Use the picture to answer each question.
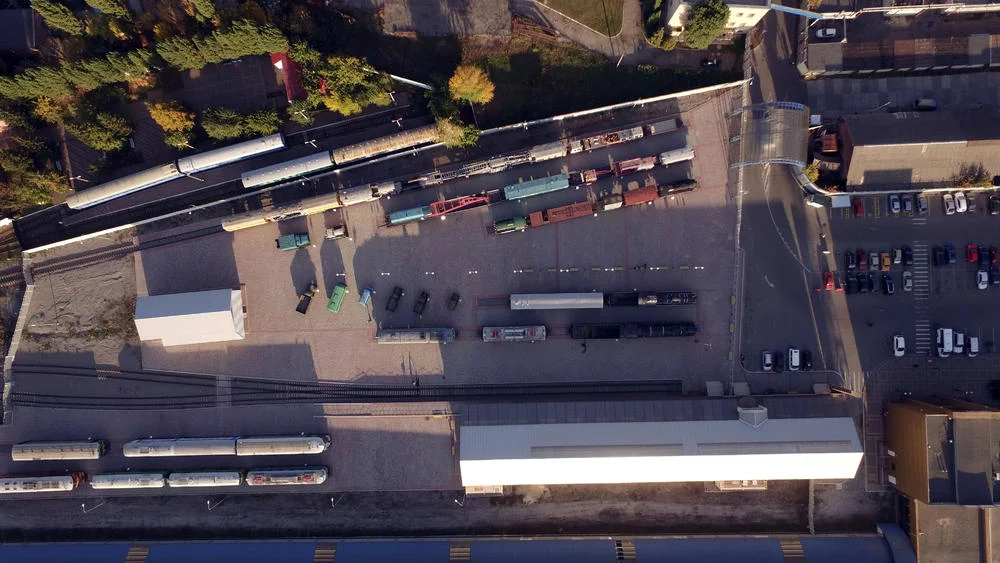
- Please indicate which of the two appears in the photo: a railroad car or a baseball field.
railroad car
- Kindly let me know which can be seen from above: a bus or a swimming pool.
bus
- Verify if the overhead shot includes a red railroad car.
Yes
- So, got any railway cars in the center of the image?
Yes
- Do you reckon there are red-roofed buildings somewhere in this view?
Yes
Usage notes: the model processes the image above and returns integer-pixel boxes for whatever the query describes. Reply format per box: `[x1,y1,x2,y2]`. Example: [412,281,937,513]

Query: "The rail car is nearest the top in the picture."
[643,117,683,139]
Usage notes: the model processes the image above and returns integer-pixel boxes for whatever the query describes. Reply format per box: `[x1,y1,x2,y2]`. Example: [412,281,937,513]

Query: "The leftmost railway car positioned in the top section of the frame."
[225,192,343,235]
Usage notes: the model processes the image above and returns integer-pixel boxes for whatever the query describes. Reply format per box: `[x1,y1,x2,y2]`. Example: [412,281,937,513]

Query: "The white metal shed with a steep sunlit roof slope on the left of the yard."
[134,289,246,345]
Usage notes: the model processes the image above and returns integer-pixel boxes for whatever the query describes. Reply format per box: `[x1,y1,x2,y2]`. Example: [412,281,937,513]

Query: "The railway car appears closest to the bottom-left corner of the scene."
[0,470,79,491]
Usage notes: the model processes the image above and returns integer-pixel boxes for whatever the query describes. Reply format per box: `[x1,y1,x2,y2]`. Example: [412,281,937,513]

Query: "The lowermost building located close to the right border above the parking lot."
[837,111,1000,191]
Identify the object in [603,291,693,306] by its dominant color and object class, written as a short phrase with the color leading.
black rail car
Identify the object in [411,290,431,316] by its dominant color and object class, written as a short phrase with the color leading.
black vehicle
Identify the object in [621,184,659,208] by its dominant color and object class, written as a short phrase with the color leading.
red rail car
